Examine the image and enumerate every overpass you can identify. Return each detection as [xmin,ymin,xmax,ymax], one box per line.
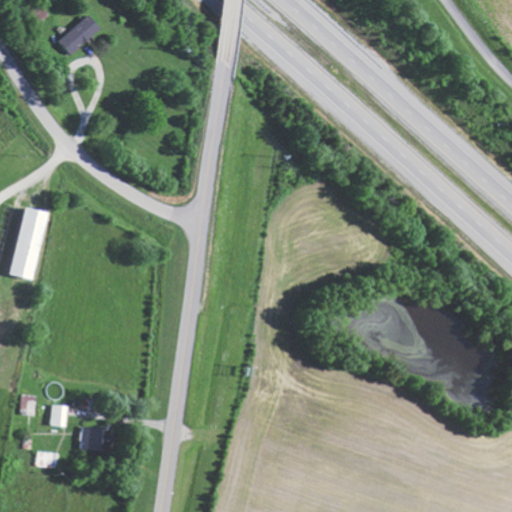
[215,0,242,64]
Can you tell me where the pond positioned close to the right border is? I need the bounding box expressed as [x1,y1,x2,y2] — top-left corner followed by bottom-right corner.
[348,296,502,406]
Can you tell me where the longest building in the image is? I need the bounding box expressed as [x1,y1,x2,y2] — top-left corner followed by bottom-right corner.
[10,207,50,282]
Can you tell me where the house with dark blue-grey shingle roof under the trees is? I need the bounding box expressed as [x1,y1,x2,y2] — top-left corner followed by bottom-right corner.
[76,426,109,451]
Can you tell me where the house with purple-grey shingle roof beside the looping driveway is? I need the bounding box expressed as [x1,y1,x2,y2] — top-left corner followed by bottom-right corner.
[60,16,98,54]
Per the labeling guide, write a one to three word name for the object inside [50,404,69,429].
building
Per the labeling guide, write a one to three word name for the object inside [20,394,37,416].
shed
